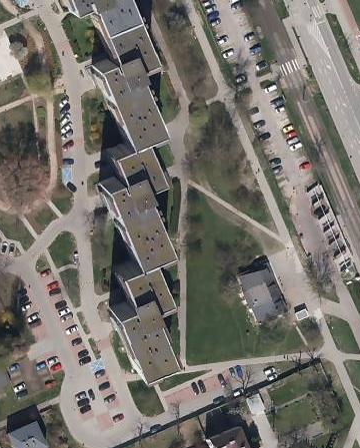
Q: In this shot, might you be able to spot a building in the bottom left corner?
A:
Yes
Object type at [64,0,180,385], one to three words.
building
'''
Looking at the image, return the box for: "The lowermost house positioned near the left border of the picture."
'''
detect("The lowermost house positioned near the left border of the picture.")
[10,421,47,448]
